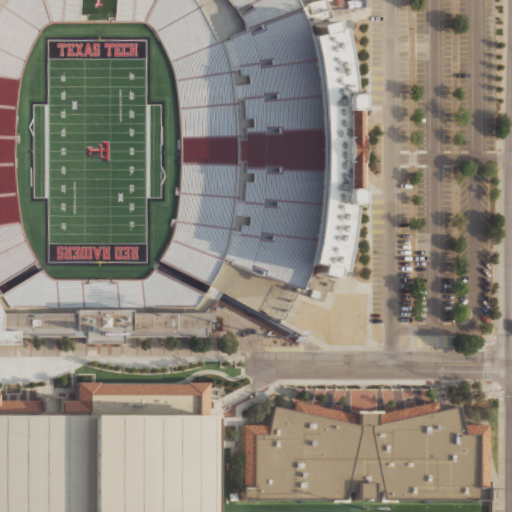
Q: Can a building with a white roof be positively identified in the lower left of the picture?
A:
Yes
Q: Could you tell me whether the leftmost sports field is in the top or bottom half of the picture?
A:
top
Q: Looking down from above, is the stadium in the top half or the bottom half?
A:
top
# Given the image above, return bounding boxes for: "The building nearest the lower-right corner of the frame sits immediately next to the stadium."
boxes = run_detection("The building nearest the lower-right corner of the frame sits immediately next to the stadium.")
[245,398,491,503]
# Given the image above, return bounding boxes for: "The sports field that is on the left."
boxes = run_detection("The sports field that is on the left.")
[16,22,182,282]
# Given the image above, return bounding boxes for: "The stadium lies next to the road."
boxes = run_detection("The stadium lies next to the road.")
[0,0,326,312]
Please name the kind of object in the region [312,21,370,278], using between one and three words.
building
